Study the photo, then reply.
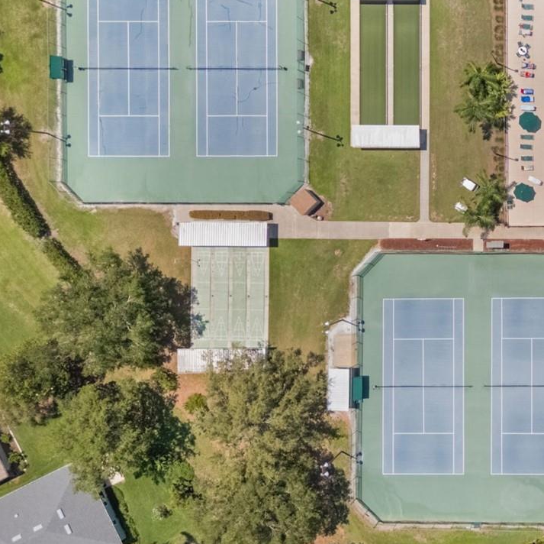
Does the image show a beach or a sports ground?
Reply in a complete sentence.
The picture captures a sports ground.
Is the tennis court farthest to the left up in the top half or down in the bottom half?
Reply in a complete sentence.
Seen from above, the tennis court farthest to the left lies in the top half of the view.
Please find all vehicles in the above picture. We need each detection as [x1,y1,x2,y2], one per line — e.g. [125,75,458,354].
[459,177,476,191]
[451,200,470,214]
